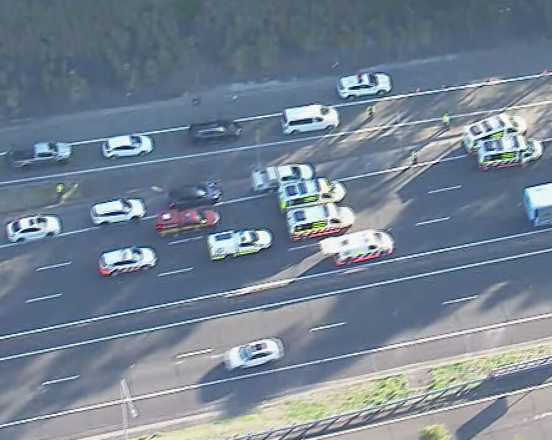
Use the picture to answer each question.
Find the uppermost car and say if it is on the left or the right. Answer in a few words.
right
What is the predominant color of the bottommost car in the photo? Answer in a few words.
white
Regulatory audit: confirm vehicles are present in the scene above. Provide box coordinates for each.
[156,207,219,238]
[338,72,391,102]
[282,105,340,137]
[207,230,271,263]
[284,202,356,244]
[523,181,552,226]
[185,118,246,148]
[101,246,157,278]
[321,233,394,268]
[460,113,529,158]
[91,198,146,229]
[276,175,348,215]
[9,140,71,170]
[165,180,227,210]
[249,165,314,195]
[474,132,545,173]
[7,215,62,244]
[224,340,283,372]
[101,133,154,162]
